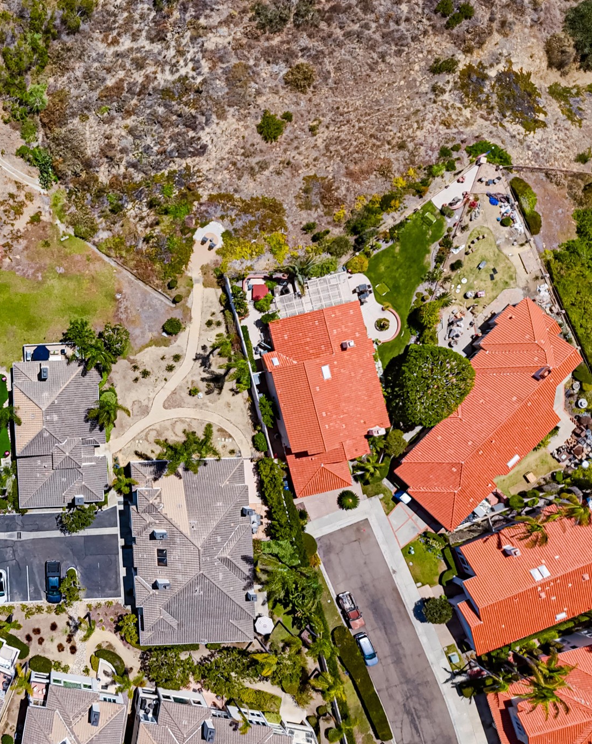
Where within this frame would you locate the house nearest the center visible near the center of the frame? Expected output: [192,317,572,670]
[257,300,391,499]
